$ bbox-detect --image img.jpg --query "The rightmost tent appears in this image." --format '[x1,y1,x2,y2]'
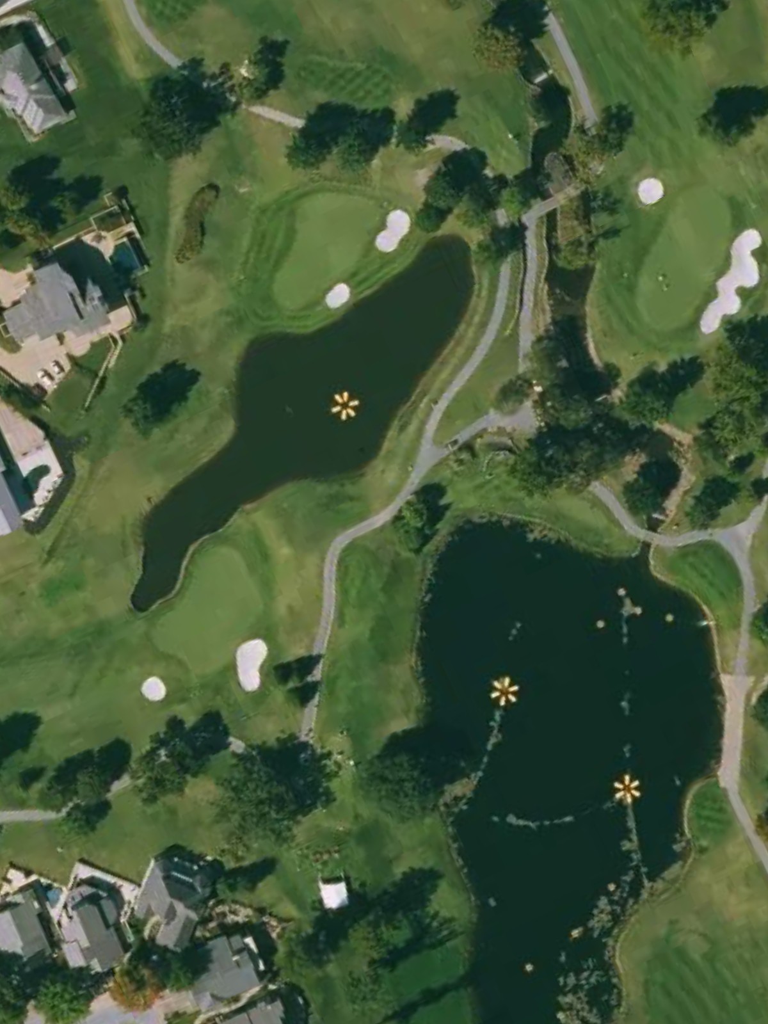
[319,873,348,905]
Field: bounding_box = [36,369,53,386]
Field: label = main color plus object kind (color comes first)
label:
white car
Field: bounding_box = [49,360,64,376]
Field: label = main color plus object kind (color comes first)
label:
white car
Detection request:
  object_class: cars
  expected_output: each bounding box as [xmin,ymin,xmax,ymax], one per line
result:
[49,360,64,376]
[36,369,53,386]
